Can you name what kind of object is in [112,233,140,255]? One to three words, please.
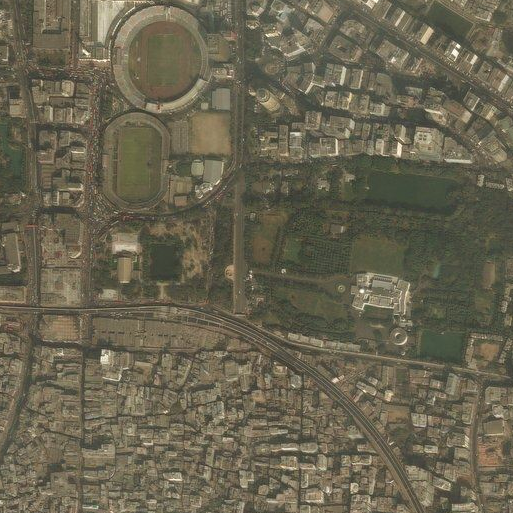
building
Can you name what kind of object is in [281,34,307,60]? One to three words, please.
building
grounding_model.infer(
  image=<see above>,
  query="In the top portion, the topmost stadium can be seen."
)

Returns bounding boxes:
[115,8,209,113]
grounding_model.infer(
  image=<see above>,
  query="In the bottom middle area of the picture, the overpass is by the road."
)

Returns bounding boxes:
[0,303,427,513]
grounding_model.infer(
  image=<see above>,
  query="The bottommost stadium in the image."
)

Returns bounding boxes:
[102,112,169,211]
